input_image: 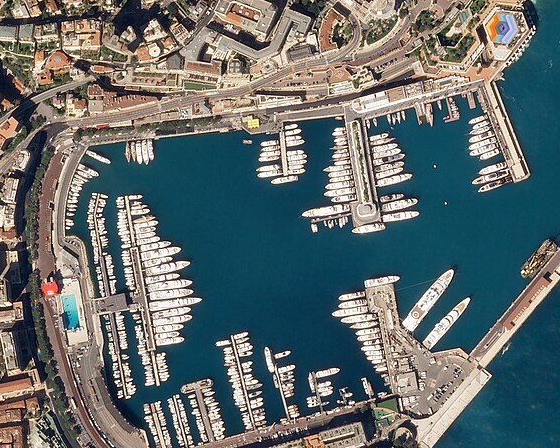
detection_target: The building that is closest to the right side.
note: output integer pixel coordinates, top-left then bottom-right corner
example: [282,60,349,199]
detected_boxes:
[486,7,532,62]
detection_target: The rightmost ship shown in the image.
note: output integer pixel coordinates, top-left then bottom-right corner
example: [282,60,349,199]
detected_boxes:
[518,237,557,280]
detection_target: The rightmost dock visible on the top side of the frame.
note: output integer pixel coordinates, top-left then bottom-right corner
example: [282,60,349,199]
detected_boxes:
[484,82,531,181]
